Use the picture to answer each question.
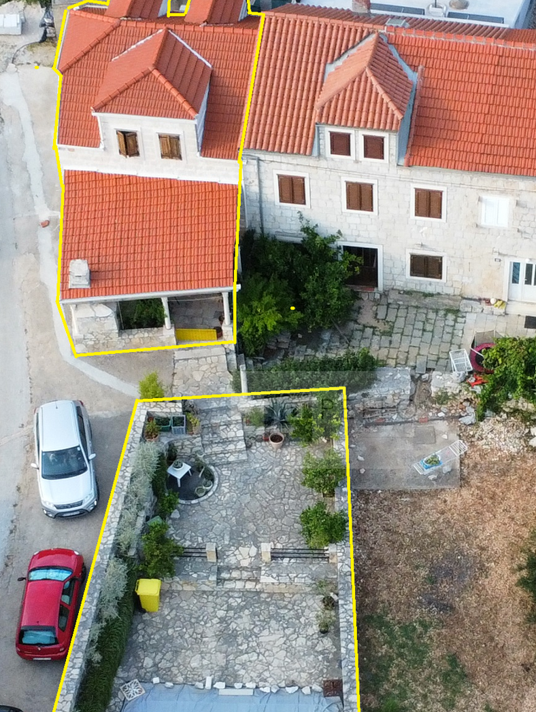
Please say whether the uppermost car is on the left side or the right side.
left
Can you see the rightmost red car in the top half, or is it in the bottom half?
bottom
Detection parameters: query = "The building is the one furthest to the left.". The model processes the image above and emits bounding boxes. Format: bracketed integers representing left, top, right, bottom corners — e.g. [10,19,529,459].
[54,0,279,347]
